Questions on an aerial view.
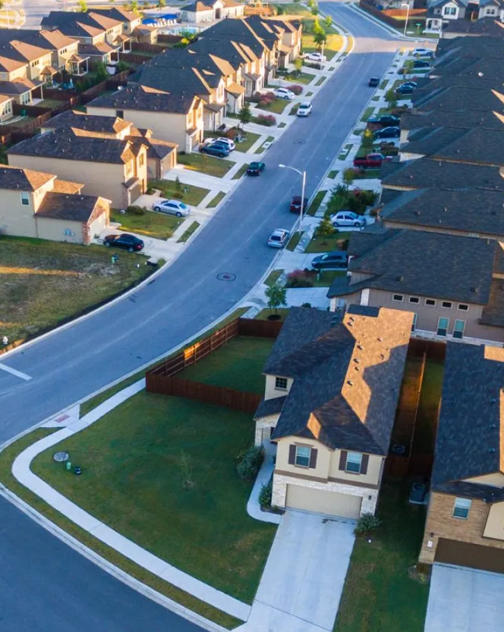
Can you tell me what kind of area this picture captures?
residential area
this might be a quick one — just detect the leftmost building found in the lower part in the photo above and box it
[249,304,414,521]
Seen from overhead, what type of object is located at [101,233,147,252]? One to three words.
car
